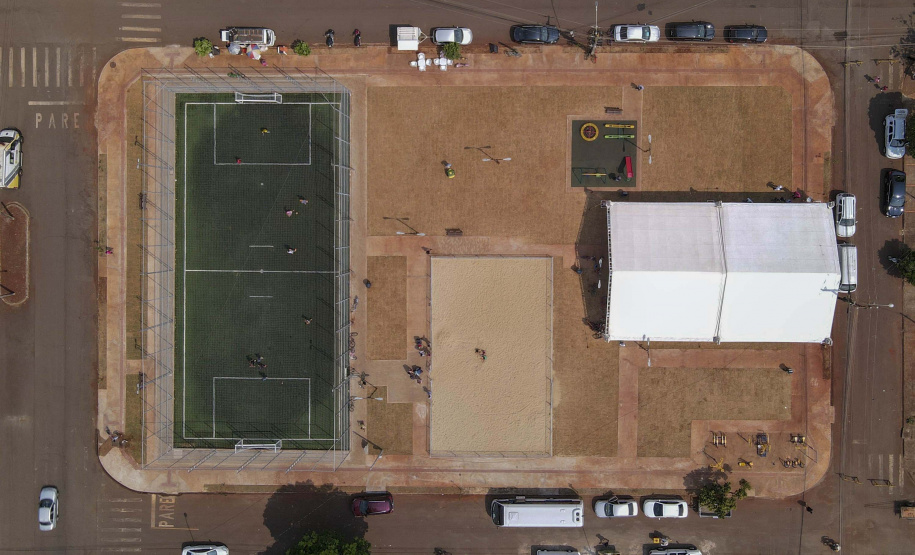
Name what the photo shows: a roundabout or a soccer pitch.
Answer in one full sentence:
Visible in the photo is a soccer pitch.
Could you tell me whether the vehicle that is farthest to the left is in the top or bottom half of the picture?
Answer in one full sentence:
The top half of the photo is where the vehicle that is farthest to the left is.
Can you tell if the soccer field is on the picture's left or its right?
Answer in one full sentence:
The soccer field appears in the left half of the scene.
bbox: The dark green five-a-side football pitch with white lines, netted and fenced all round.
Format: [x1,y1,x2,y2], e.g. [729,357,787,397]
[147,74,354,466]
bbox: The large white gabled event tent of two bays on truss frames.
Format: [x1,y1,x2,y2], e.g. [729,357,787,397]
[589,196,844,346]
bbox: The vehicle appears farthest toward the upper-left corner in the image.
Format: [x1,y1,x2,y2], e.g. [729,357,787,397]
[0,130,24,187]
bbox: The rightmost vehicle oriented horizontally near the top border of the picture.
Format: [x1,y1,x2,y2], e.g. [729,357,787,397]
[724,23,768,44]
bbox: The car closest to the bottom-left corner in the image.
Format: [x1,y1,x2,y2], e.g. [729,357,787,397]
[37,484,62,531]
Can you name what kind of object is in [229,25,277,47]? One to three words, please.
truck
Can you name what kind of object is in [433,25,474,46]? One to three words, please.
car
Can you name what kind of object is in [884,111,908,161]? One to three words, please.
car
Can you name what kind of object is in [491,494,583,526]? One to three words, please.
bus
